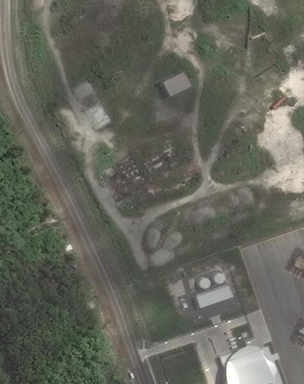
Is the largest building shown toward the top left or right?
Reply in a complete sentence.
The largest building shown toward the top sits on the left side.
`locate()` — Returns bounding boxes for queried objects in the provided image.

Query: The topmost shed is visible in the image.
[163,71,189,96]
